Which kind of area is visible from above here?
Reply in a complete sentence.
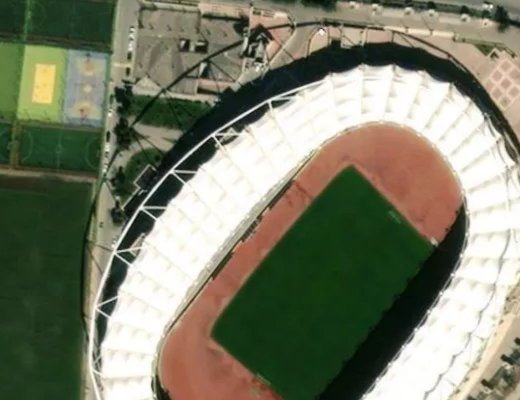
It's a sports ground.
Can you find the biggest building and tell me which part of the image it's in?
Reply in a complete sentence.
Look in the top portion of the view to spot the biggest building.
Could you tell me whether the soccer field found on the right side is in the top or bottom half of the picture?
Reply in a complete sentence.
It is in the bottom half that the soccer field found on the right side appears.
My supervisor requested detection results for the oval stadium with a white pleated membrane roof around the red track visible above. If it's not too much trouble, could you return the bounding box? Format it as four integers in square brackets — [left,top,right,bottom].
[84,64,520,400]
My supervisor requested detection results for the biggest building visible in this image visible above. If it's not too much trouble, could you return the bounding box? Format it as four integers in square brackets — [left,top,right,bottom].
[240,26,269,67]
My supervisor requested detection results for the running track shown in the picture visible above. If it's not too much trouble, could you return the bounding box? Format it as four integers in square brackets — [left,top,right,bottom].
[157,124,468,400]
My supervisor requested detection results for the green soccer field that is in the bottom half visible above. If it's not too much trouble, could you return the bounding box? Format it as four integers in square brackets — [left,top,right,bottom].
[210,165,453,400]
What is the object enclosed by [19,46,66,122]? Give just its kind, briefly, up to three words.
sports court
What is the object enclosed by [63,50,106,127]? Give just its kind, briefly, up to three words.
basketball court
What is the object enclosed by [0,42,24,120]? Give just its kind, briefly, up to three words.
sports court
